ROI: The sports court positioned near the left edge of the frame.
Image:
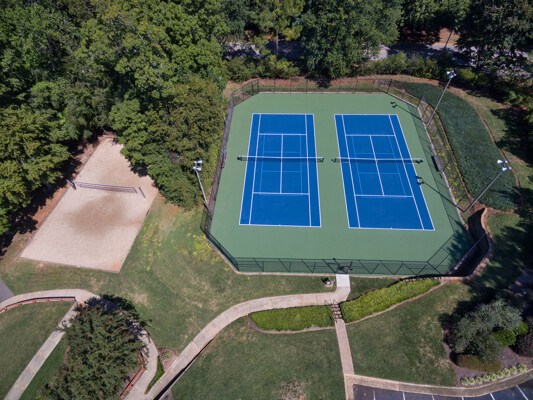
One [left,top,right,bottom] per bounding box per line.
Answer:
[20,134,176,272]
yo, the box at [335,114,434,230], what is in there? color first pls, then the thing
blue tennis court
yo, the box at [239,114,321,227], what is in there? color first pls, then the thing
blue tennis court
